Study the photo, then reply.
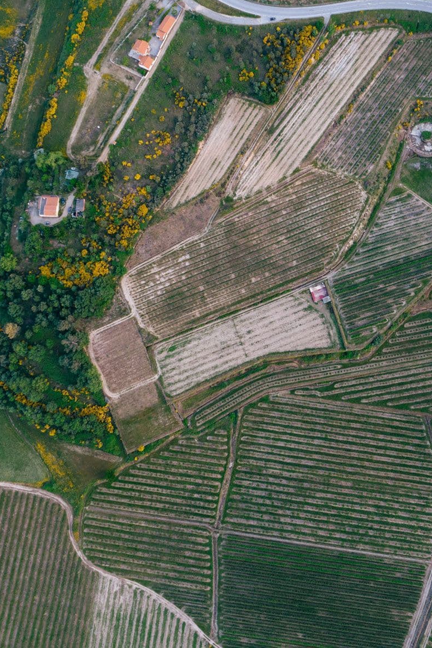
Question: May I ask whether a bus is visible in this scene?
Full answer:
No, I can't see a single bus in this photo.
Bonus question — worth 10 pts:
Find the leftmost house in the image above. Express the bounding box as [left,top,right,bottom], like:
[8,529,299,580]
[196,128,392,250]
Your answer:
[40,198,61,216]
